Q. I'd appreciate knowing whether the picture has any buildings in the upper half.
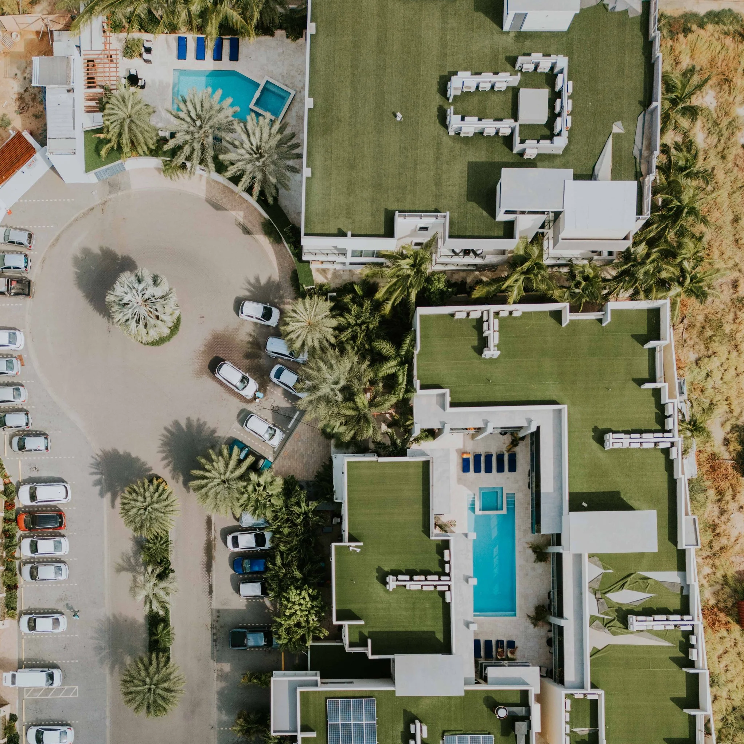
Yes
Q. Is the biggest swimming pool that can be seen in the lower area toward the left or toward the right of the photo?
right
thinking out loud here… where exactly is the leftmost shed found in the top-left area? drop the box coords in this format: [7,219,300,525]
[0,133,46,185]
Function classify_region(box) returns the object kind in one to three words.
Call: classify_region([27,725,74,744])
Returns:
car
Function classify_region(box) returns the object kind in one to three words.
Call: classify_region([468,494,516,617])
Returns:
swimming pool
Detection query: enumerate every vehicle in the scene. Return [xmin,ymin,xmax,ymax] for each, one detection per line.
[241,411,286,450]
[19,481,70,505]
[267,362,309,399]
[21,560,69,584]
[4,667,63,689]
[0,250,31,275]
[0,224,36,250]
[0,328,24,349]
[12,432,51,453]
[18,509,65,533]
[0,386,28,406]
[0,408,32,431]
[233,555,272,577]
[21,535,69,558]
[20,612,66,635]
[0,275,36,300]
[211,357,260,401]
[237,579,276,599]
[227,529,273,552]
[27,725,74,744]
[0,357,20,377]
[237,299,281,328]
[228,432,273,472]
